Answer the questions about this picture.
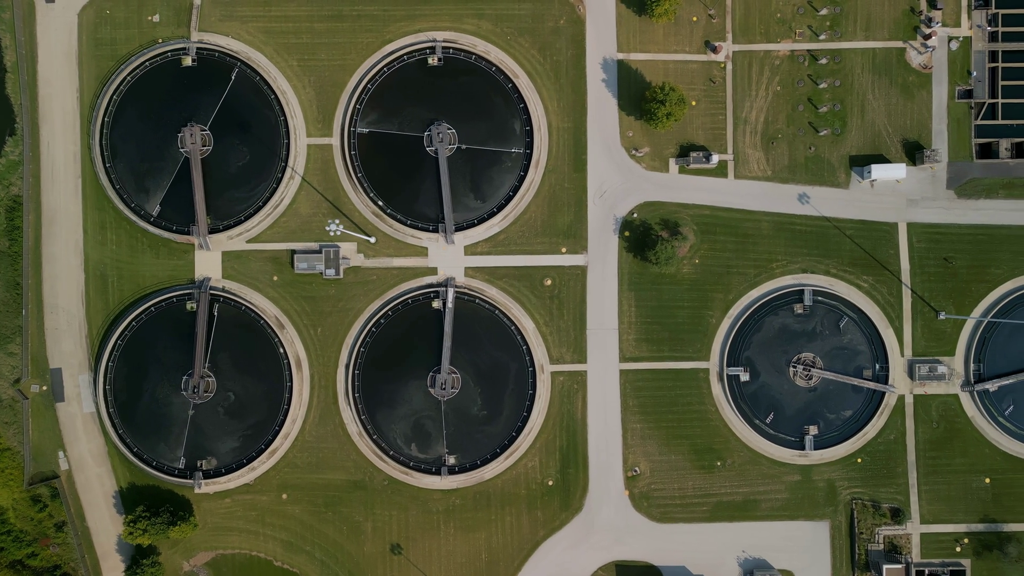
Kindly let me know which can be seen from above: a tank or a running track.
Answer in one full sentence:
The one in the frame is a tank.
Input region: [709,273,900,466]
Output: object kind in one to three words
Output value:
storage tank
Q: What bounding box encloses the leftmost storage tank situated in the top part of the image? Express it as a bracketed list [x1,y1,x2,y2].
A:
[93,35,304,248]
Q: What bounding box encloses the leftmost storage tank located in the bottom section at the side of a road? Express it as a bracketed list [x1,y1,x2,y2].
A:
[96,279,308,491]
